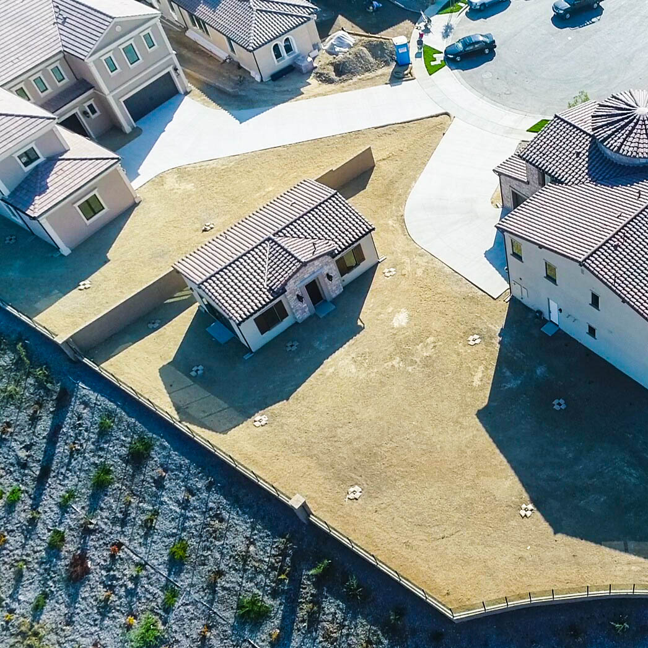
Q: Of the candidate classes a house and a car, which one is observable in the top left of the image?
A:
house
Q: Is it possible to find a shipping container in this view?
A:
No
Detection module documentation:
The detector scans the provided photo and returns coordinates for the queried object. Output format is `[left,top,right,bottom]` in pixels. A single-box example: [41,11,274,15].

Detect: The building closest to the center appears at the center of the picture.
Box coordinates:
[170,179,383,360]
